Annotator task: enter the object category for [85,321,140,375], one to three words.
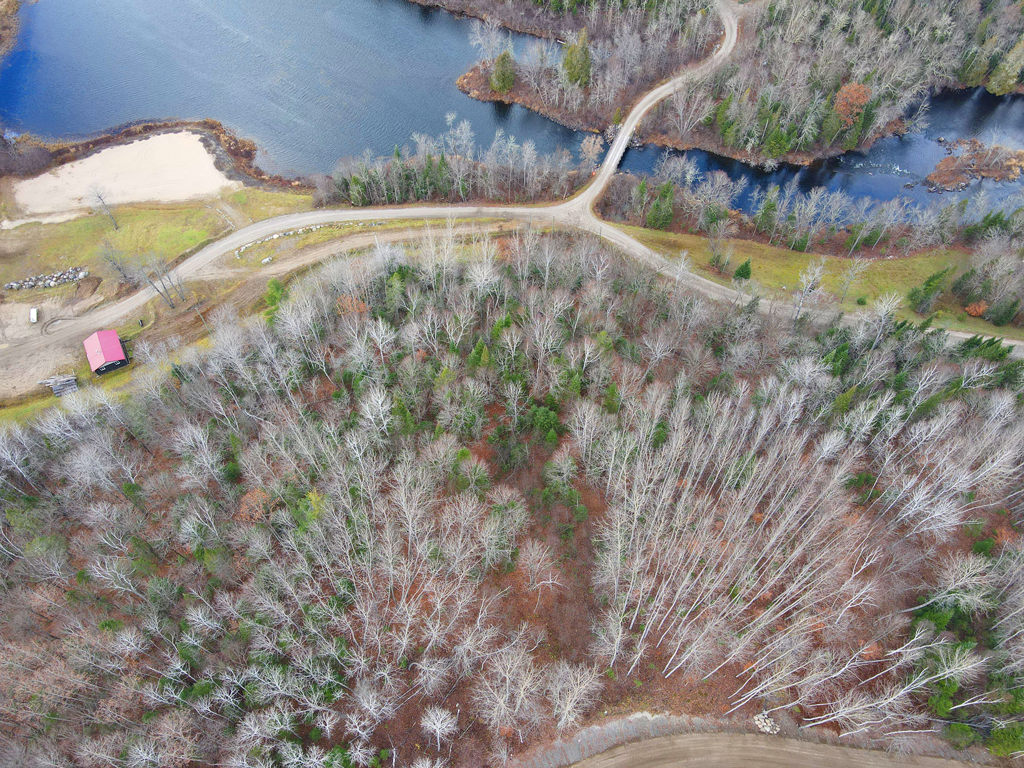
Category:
building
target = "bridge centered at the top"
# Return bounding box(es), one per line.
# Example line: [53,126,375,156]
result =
[595,126,637,177]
